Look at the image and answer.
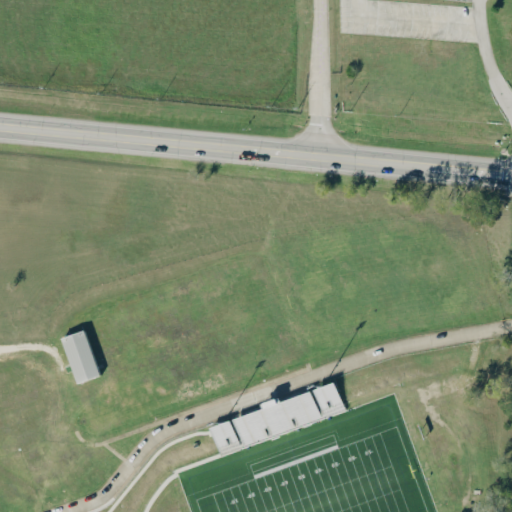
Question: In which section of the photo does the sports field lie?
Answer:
bottom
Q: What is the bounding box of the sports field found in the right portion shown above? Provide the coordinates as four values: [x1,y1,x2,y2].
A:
[178,395,438,512]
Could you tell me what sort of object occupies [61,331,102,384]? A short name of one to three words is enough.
barn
